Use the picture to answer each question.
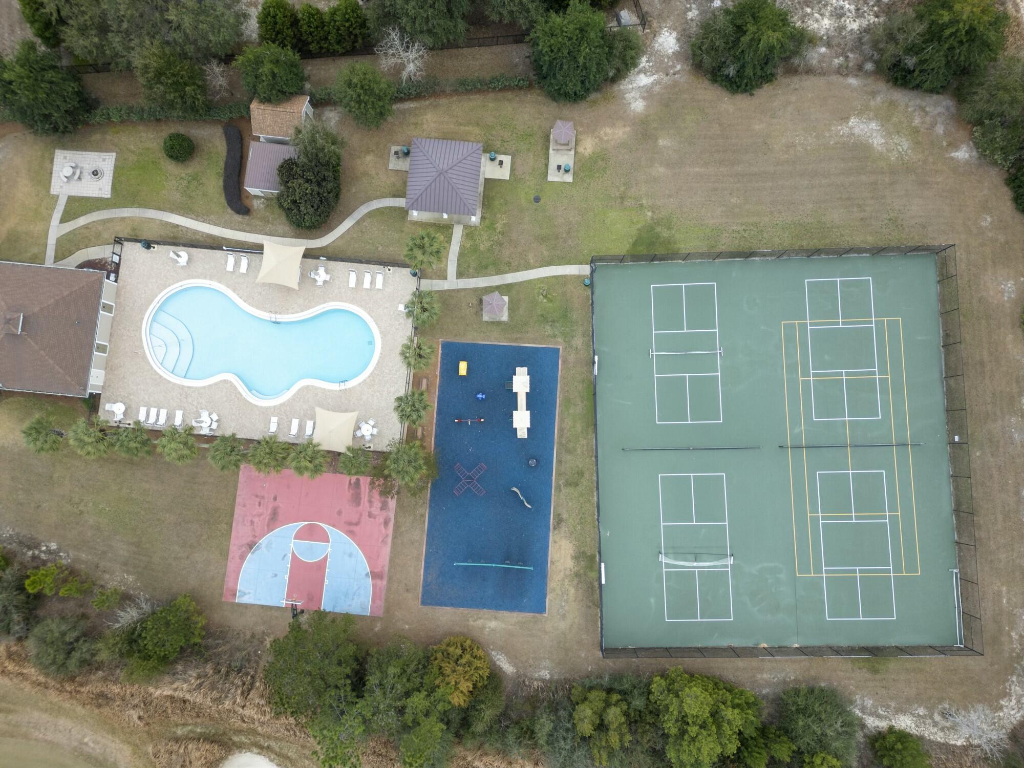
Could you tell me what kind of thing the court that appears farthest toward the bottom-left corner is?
basketball court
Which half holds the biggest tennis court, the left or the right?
right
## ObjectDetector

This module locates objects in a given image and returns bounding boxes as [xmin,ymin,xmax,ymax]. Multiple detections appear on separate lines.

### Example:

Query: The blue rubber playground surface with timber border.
[419,339,562,616]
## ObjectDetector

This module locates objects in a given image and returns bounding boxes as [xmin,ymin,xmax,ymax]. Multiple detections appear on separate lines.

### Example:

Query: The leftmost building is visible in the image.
[0,263,117,398]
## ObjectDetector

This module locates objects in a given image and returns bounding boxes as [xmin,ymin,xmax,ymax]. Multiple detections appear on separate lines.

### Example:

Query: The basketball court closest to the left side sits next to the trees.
[223,465,397,616]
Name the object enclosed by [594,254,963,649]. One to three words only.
tennis court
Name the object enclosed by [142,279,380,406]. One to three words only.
swimming pool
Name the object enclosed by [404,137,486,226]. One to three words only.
building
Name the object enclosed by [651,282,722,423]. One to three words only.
sports court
